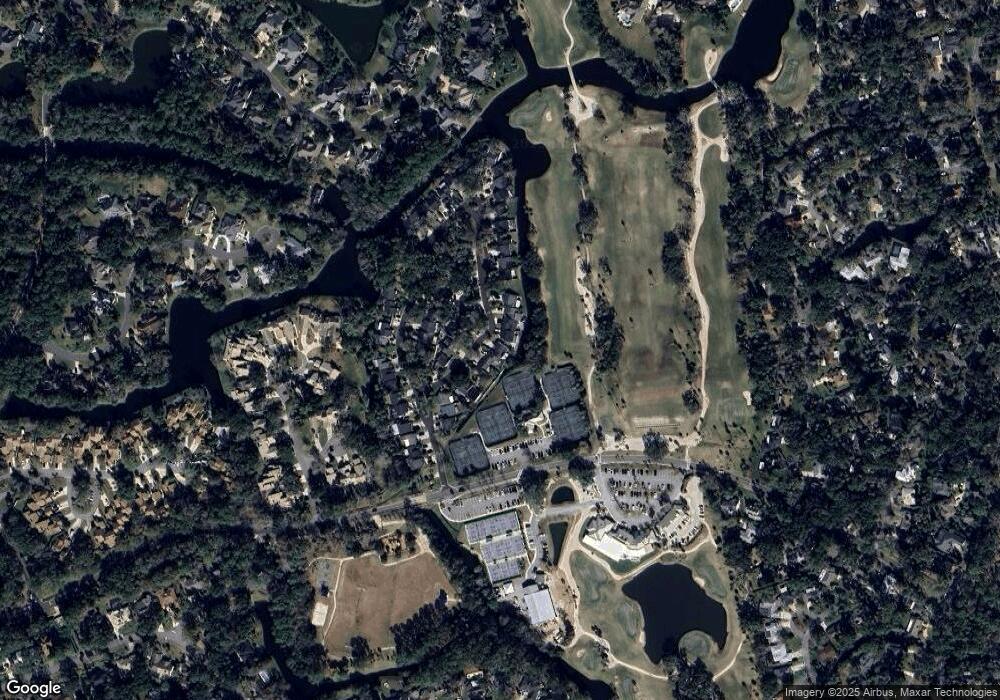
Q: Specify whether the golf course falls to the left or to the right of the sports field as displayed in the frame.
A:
to its right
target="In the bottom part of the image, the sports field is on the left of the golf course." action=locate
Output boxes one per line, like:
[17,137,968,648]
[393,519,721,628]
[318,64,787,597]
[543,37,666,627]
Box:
[325,555,457,658]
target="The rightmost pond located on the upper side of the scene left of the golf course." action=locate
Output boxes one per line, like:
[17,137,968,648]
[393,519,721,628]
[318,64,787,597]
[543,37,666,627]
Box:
[304,0,407,68]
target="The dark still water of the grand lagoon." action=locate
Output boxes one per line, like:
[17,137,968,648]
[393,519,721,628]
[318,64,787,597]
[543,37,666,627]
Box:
[0,238,377,420]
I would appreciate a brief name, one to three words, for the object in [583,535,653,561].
building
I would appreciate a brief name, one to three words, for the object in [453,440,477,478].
tennis court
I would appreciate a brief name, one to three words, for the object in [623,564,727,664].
pond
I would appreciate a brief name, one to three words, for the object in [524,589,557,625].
shed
